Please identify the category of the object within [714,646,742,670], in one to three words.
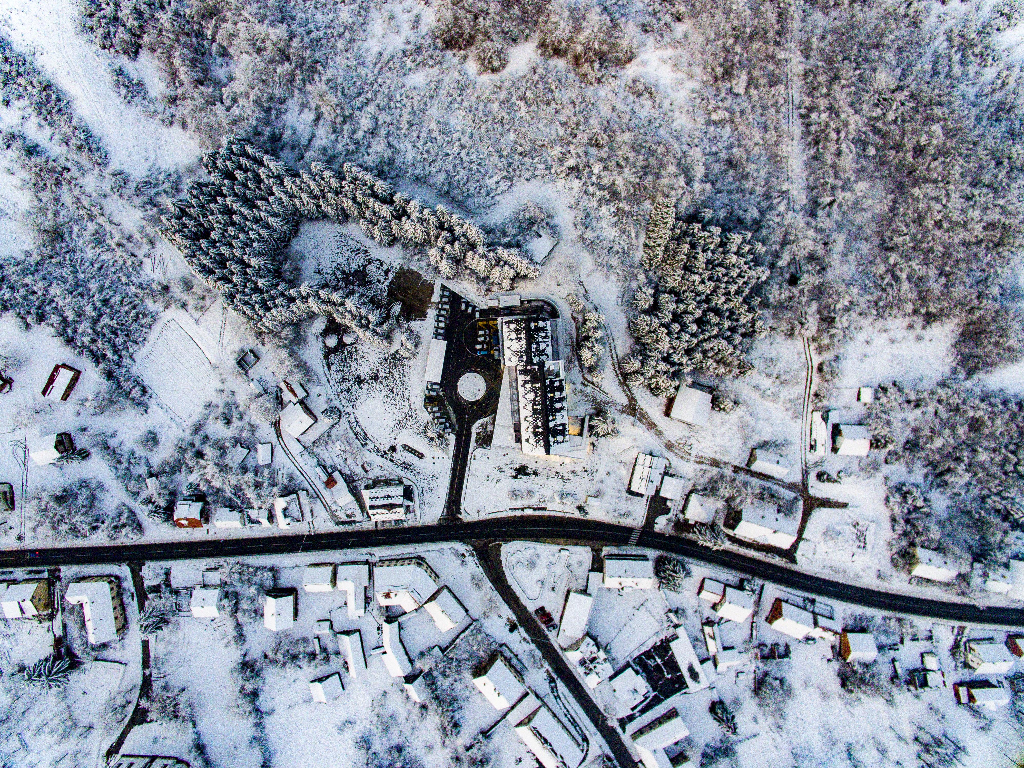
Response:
shed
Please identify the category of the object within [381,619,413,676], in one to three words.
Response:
barn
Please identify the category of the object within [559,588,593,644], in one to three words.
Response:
building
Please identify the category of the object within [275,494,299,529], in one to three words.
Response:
house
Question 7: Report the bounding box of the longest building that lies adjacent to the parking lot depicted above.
[492,316,569,454]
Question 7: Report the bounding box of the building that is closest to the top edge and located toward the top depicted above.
[524,232,556,263]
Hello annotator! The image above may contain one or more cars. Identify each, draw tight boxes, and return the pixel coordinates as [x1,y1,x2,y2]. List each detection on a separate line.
[435,418,446,423]
[426,390,437,396]
[430,412,441,417]
[428,406,439,412]
[440,422,451,428]
[467,302,474,314]
[436,309,447,315]
[442,427,454,433]
[547,623,558,631]
[438,297,449,302]
[434,322,445,327]
[424,397,435,403]
[478,336,489,341]
[540,611,552,619]
[438,304,450,309]
[434,316,446,321]
[477,350,488,356]
[475,307,480,319]
[428,384,439,389]
[439,290,451,296]
[433,334,444,340]
[475,344,486,349]
[433,328,445,333]
[461,299,466,310]
[534,606,545,614]
[478,330,489,335]
[543,616,555,625]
